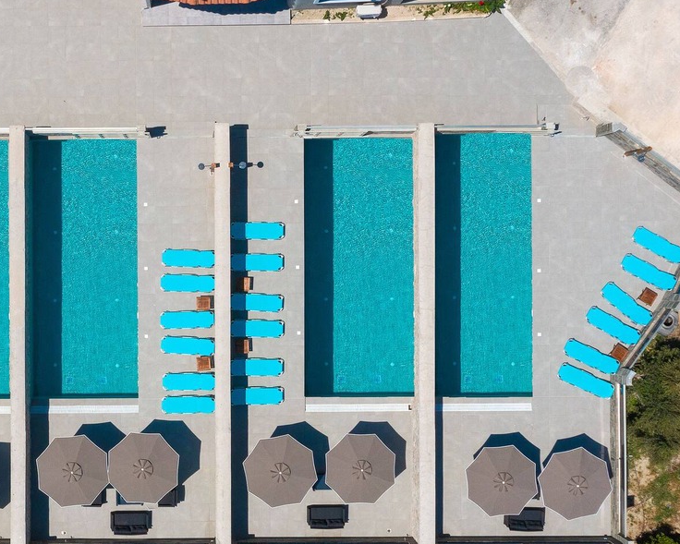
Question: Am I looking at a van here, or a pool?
pool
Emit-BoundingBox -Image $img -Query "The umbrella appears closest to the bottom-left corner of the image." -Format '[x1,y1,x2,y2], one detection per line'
[37,436,108,507]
